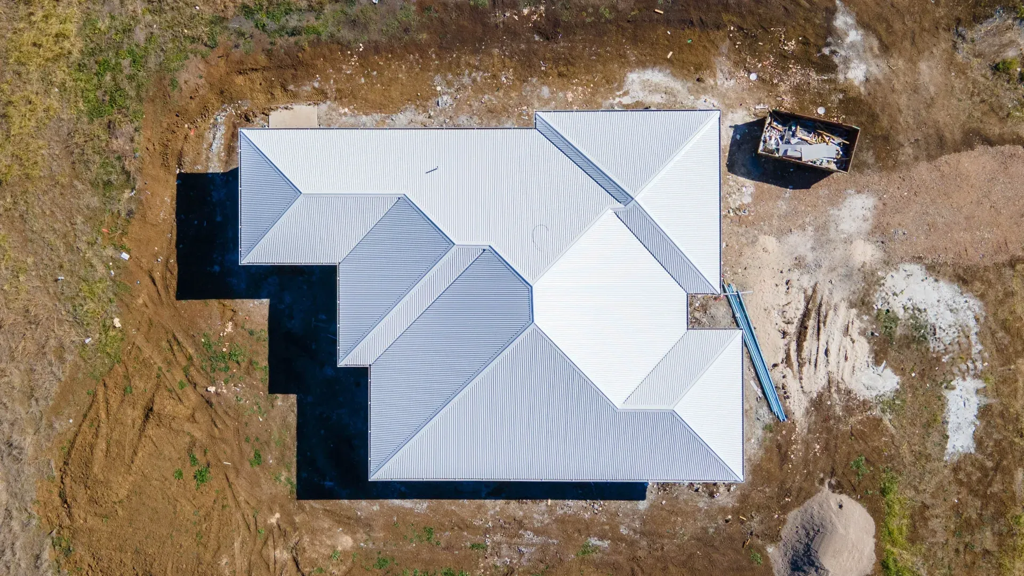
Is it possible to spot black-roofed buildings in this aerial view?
No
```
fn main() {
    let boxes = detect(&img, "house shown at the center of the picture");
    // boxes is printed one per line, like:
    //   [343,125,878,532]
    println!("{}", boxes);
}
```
[239,110,743,481]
